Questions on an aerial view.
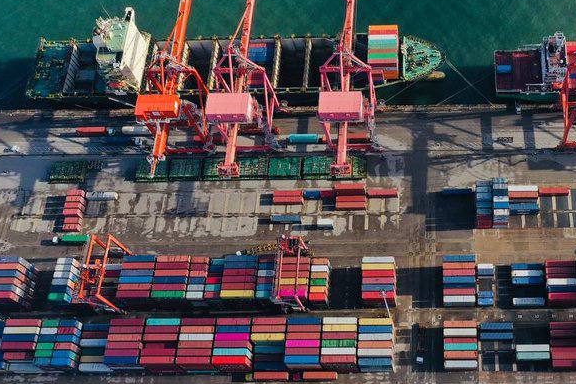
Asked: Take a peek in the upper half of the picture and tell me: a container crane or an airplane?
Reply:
container crane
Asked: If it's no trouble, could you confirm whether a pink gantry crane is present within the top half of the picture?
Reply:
Yes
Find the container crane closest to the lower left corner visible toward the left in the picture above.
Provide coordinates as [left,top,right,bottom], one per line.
[75,233,138,318]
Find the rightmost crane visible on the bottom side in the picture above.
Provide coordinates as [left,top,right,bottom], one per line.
[274,232,313,317]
